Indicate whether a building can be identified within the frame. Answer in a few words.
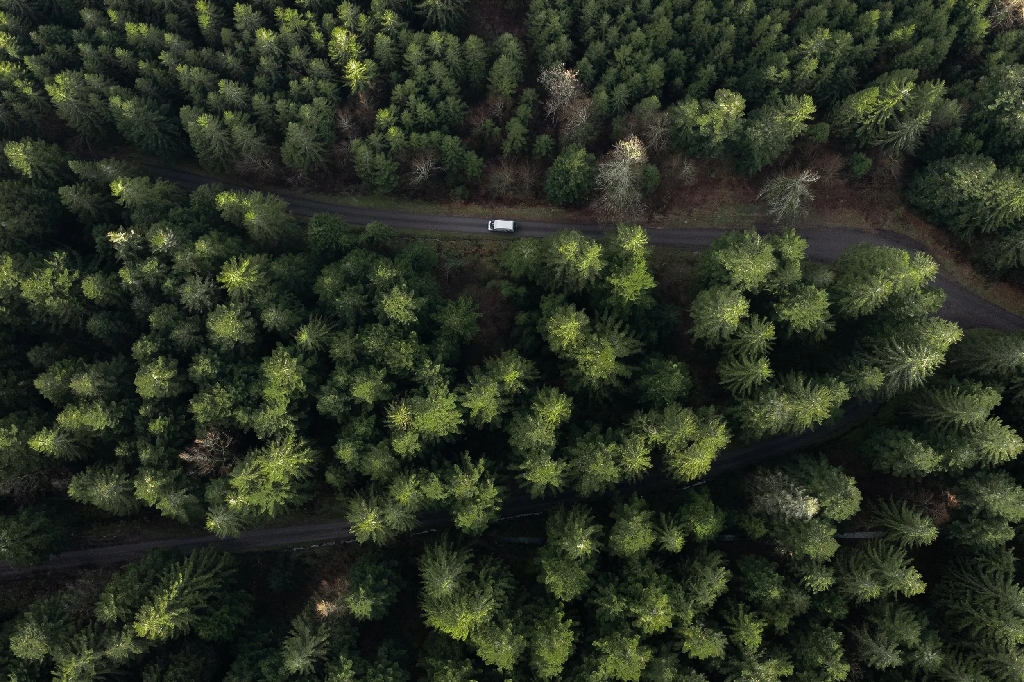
No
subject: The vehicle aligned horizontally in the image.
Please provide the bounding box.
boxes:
[488,221,520,234]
